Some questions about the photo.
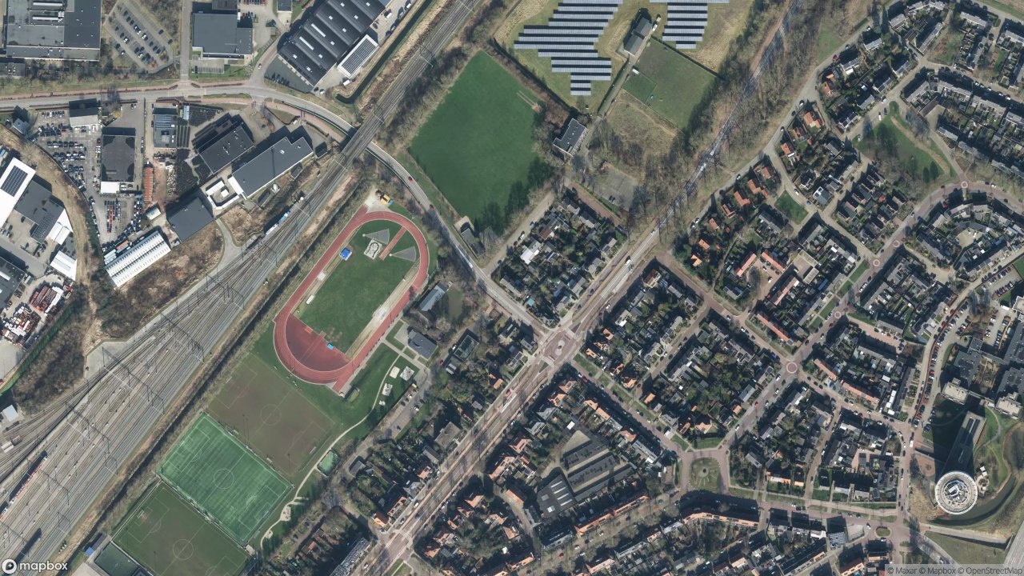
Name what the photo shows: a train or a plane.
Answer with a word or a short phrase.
train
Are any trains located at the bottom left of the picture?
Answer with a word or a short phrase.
Yes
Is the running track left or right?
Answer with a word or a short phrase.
left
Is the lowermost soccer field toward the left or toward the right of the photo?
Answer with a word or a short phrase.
left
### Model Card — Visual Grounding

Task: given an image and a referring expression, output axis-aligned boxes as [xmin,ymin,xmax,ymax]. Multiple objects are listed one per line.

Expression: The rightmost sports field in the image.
[408,51,546,237]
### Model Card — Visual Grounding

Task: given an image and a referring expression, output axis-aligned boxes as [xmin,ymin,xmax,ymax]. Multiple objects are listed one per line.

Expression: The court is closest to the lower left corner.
[93,542,138,576]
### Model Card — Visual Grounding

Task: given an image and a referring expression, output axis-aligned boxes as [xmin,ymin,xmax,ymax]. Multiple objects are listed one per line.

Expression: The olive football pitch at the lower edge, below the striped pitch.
[111,483,248,576]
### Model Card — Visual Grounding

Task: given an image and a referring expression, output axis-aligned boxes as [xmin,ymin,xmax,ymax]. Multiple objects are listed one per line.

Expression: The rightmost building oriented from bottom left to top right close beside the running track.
[419,283,448,312]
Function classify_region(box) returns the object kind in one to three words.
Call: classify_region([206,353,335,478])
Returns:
soccer field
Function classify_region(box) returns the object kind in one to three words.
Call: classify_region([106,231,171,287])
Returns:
building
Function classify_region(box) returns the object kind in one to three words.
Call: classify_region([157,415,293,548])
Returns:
soccer field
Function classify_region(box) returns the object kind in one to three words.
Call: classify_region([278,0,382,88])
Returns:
building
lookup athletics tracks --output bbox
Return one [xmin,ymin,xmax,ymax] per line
[272,190,430,386]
